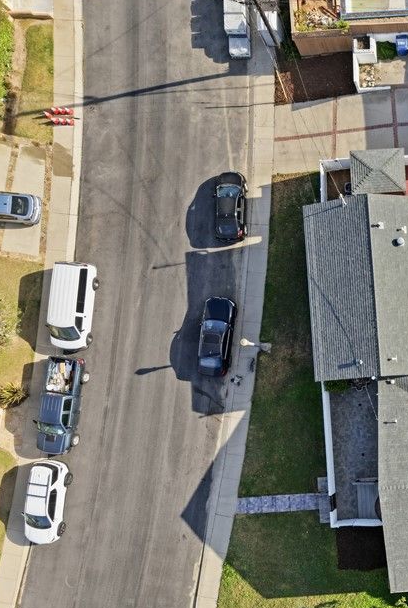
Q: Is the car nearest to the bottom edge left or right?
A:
left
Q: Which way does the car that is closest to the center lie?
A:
vertically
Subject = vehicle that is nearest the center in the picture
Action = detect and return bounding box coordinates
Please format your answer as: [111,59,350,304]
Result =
[199,295,239,377]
